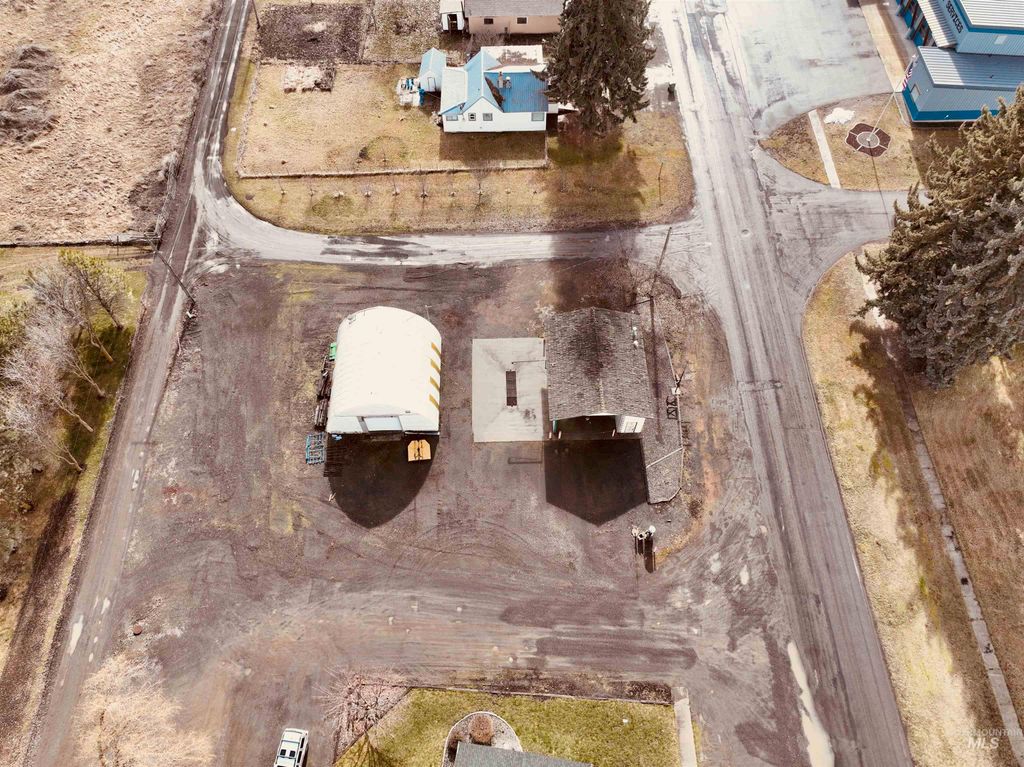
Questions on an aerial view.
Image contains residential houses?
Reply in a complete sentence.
Yes, the image includes a residential house.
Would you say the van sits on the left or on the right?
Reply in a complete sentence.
The van sits on the left side.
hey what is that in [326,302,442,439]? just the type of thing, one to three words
shed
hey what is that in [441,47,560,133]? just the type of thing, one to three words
house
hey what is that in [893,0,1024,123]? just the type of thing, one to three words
building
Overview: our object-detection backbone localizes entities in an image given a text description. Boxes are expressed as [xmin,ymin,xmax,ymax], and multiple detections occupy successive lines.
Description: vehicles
[277,729,315,767]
